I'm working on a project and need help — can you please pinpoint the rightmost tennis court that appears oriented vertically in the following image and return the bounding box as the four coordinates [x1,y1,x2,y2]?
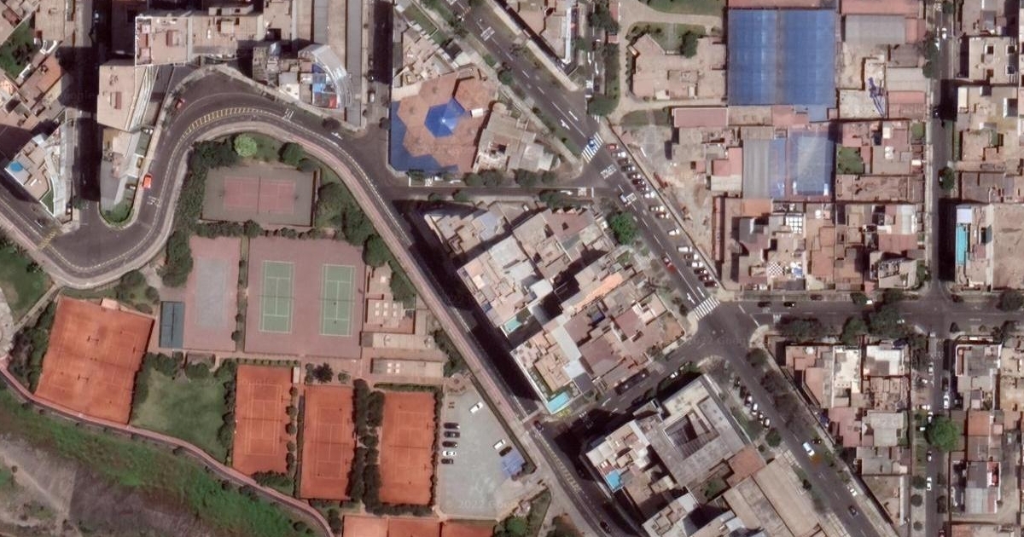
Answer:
[378,392,434,504]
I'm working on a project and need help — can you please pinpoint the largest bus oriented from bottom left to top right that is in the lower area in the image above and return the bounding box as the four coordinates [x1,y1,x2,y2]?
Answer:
[616,370,648,393]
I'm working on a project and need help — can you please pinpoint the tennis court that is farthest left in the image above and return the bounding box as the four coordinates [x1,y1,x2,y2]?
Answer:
[35,296,107,410]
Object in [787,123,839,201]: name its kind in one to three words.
building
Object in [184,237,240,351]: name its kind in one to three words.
sports court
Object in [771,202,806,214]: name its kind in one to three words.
house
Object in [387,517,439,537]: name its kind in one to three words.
tennis court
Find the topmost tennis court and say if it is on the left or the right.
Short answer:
left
